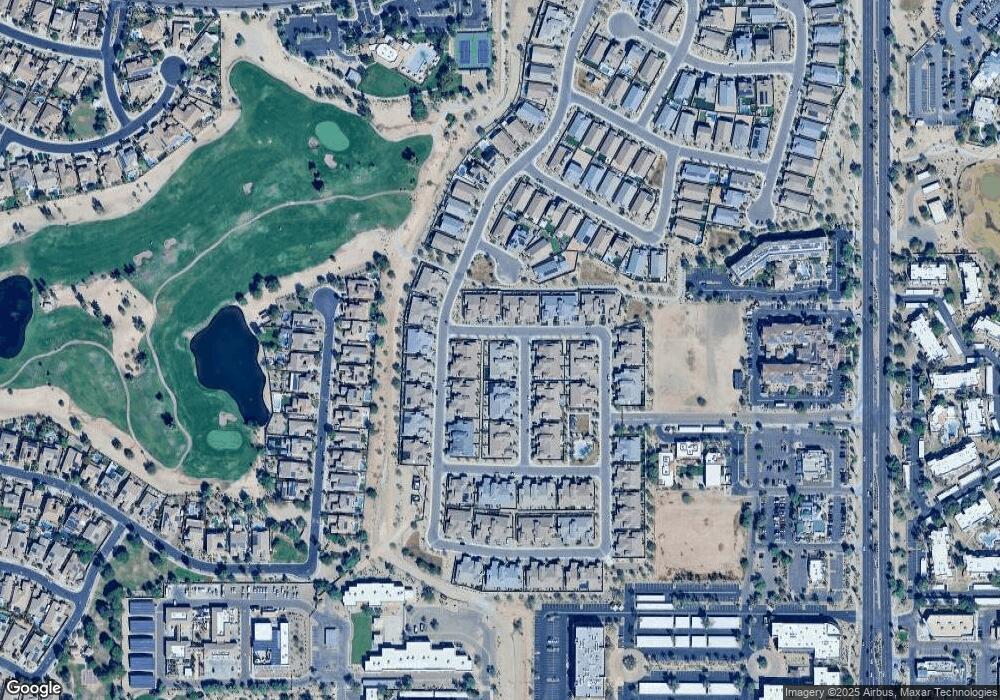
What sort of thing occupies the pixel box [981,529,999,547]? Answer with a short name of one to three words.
swimming pool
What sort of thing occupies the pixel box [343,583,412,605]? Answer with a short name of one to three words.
building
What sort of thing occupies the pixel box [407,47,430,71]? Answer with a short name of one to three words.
swimming pool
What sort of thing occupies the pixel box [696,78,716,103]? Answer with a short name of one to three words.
house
